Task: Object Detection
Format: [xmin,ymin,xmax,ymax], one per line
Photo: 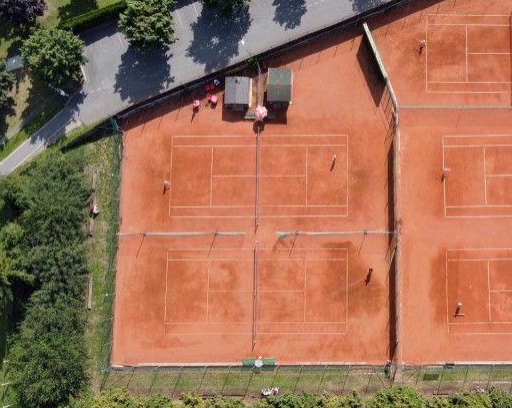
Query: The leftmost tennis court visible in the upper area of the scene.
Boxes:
[118,13,393,233]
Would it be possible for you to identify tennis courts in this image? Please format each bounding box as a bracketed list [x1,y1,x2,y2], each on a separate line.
[390,109,512,232]
[118,13,393,233]
[387,0,512,109]
[110,233,396,366]
[393,232,512,366]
